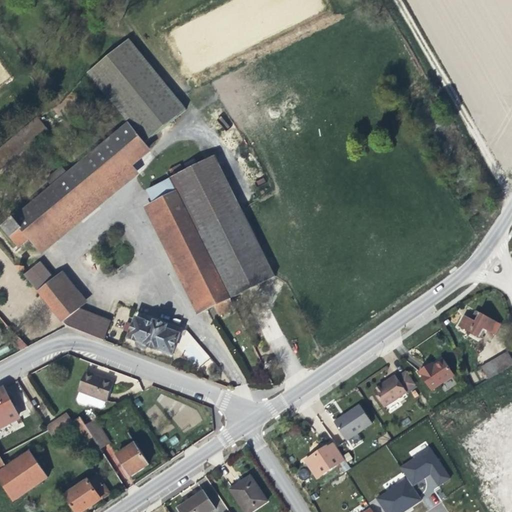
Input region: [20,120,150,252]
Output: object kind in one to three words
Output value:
building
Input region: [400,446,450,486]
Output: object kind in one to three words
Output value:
house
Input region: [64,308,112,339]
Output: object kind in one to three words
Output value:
shed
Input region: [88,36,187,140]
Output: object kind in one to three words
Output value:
barn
